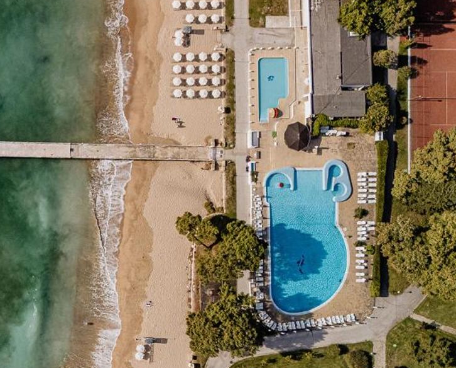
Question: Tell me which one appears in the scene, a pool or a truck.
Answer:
pool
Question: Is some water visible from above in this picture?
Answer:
Yes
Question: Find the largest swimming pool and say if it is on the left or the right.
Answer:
right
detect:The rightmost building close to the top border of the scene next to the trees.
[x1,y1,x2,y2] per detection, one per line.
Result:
[302,0,372,119]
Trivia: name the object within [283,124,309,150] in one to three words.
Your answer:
umbrella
